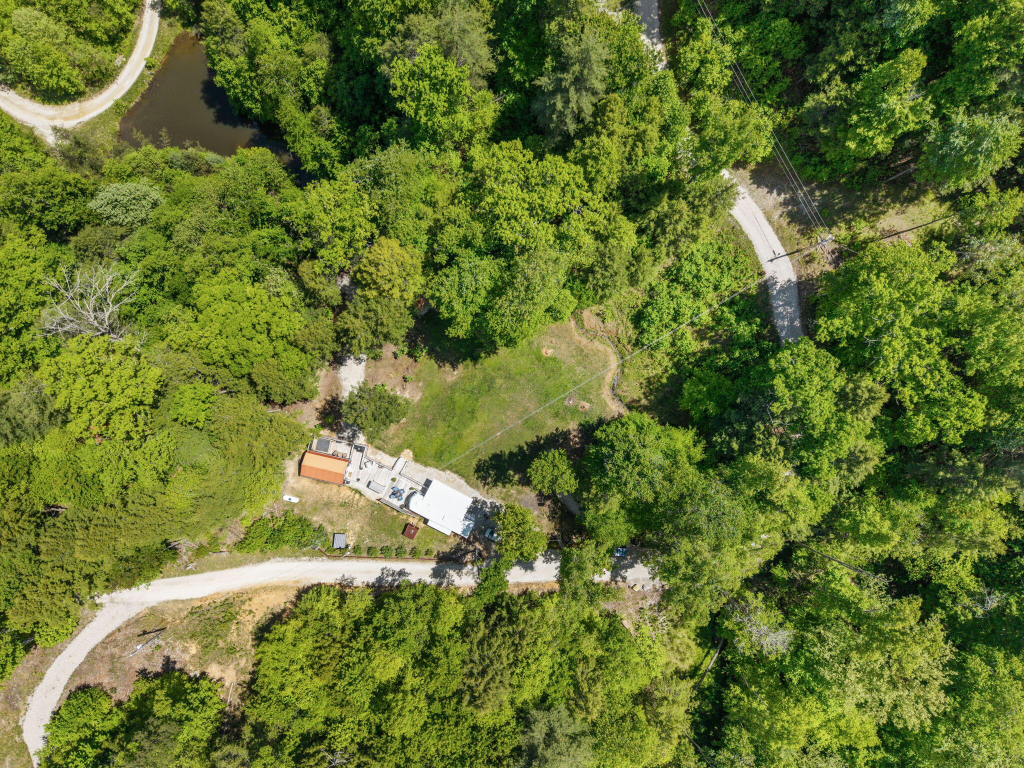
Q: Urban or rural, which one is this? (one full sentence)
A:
The area shown here is rural.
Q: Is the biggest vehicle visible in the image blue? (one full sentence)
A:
No, the biggest vehicle is actually white.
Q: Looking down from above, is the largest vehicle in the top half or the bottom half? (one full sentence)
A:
You can find the largest vehicle in the bottom half.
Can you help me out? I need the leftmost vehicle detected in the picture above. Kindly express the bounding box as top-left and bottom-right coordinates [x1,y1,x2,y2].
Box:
[408,478,483,538]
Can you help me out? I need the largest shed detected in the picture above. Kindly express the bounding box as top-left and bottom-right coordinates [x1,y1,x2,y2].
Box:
[300,450,350,485]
